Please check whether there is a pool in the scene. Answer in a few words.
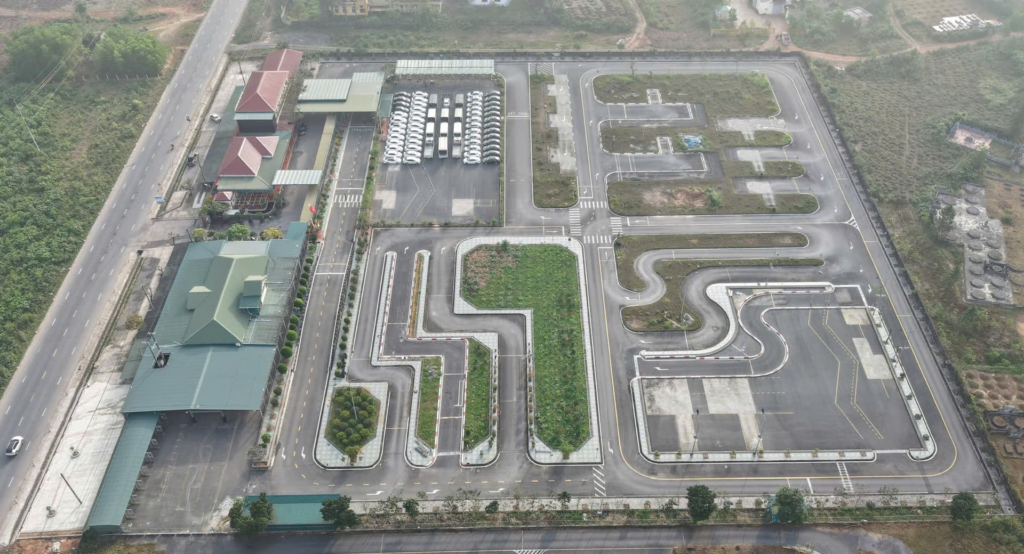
No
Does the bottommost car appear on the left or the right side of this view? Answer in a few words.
left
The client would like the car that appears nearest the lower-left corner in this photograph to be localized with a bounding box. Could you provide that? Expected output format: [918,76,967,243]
[4,436,25,459]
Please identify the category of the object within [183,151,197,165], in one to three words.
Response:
vehicle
